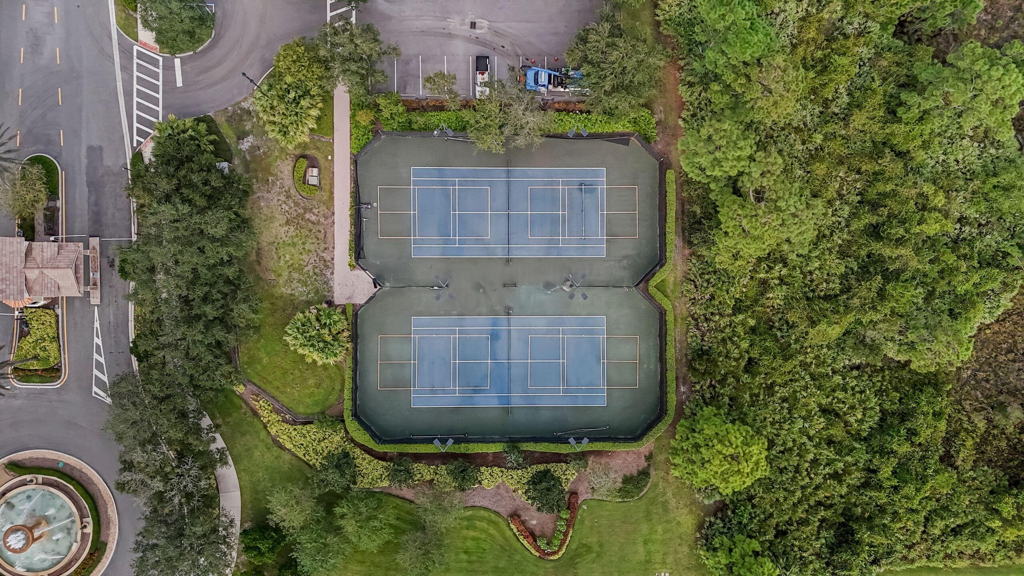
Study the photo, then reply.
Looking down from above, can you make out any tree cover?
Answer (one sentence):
Yes, tree cover shows up in the scene.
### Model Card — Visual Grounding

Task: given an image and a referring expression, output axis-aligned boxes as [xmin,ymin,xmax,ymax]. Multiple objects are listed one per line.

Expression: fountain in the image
[0,476,90,576]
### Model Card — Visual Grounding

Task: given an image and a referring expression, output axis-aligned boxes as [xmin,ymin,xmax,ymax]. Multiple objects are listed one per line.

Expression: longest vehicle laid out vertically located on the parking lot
[473,55,492,100]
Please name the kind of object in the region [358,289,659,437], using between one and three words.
tennis court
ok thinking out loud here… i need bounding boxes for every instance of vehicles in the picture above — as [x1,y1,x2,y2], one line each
[473,55,492,100]
[517,65,600,94]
